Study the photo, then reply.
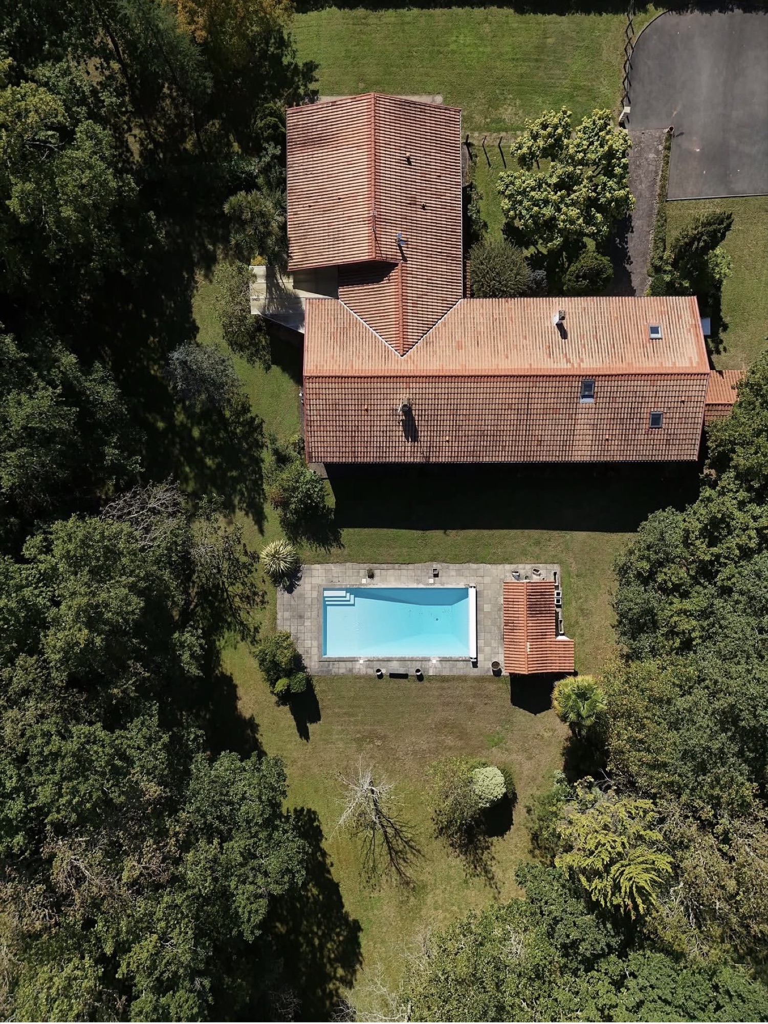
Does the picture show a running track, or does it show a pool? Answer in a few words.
pool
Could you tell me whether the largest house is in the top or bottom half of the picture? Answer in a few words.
top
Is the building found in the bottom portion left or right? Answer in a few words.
right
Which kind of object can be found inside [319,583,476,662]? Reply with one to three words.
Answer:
swimming pool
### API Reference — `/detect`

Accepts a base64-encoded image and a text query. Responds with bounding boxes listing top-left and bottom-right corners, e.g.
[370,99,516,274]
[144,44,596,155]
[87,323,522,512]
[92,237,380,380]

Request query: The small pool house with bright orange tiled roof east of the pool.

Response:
[499,579,575,675]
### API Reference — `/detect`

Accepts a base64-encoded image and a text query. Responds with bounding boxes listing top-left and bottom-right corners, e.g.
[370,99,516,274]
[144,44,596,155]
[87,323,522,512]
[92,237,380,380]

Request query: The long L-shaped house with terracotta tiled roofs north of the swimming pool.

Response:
[285,91,711,464]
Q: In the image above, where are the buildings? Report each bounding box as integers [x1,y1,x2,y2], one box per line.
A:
[285,91,711,464]
[499,579,575,675]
